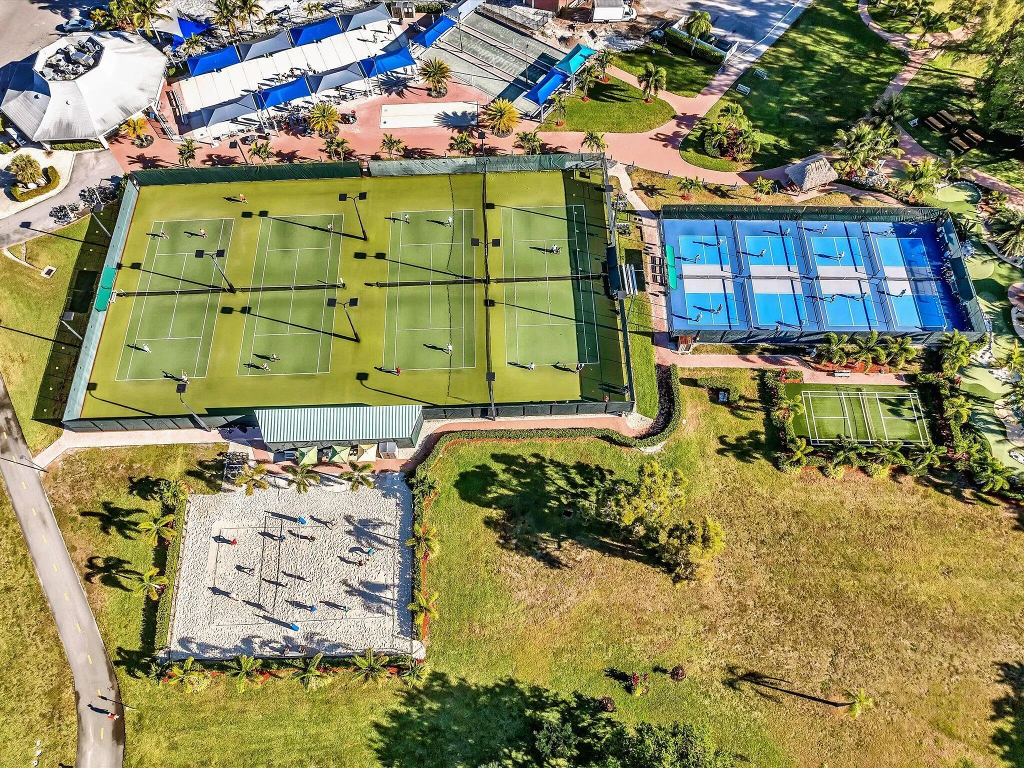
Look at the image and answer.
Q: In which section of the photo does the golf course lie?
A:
right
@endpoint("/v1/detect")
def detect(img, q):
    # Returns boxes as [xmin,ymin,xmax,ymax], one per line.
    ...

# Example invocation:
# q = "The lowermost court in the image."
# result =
[168,482,419,659]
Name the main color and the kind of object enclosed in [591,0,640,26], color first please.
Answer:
white truck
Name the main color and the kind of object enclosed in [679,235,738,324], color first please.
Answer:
blue sports court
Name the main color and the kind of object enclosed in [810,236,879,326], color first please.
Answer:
blue sports court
